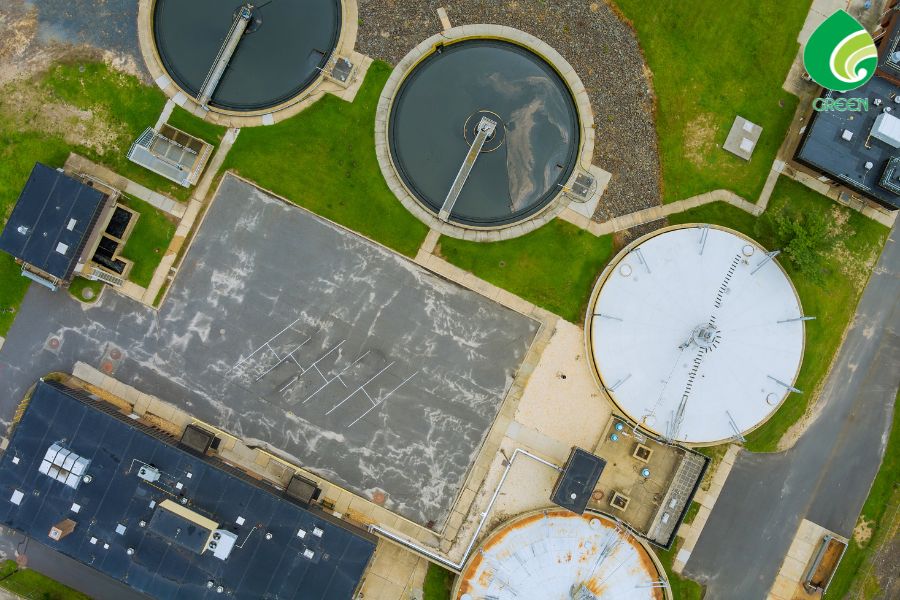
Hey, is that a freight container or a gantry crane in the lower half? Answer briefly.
freight container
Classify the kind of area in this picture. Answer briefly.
industrial area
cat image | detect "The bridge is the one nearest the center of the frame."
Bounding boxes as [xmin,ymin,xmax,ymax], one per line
[439,113,494,221]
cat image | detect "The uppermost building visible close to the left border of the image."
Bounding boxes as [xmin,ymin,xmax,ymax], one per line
[0,163,114,290]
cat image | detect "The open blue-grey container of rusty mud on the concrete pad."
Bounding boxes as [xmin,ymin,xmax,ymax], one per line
[801,530,846,593]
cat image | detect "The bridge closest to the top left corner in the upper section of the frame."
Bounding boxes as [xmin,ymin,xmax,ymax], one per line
[200,1,250,105]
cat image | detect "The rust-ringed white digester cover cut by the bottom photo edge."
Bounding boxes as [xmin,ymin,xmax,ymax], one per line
[452,502,671,600]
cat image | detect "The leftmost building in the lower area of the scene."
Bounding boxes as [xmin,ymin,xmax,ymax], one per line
[0,378,377,600]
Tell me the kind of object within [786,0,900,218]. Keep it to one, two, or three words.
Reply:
building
